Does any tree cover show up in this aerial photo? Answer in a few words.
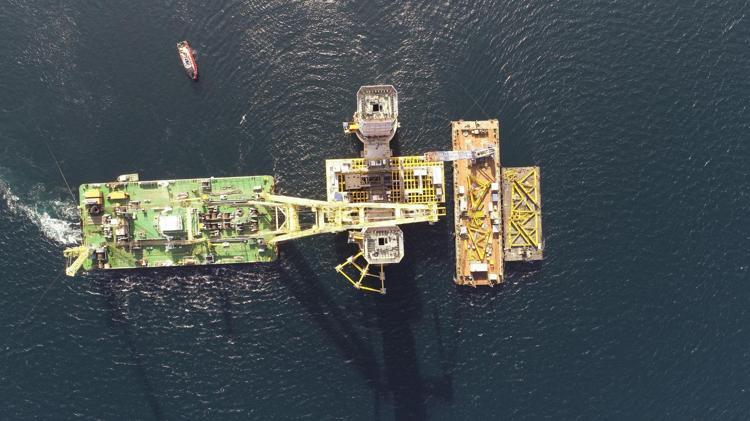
No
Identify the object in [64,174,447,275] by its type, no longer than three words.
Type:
vessel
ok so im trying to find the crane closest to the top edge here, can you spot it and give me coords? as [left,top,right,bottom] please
[423,146,500,165]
